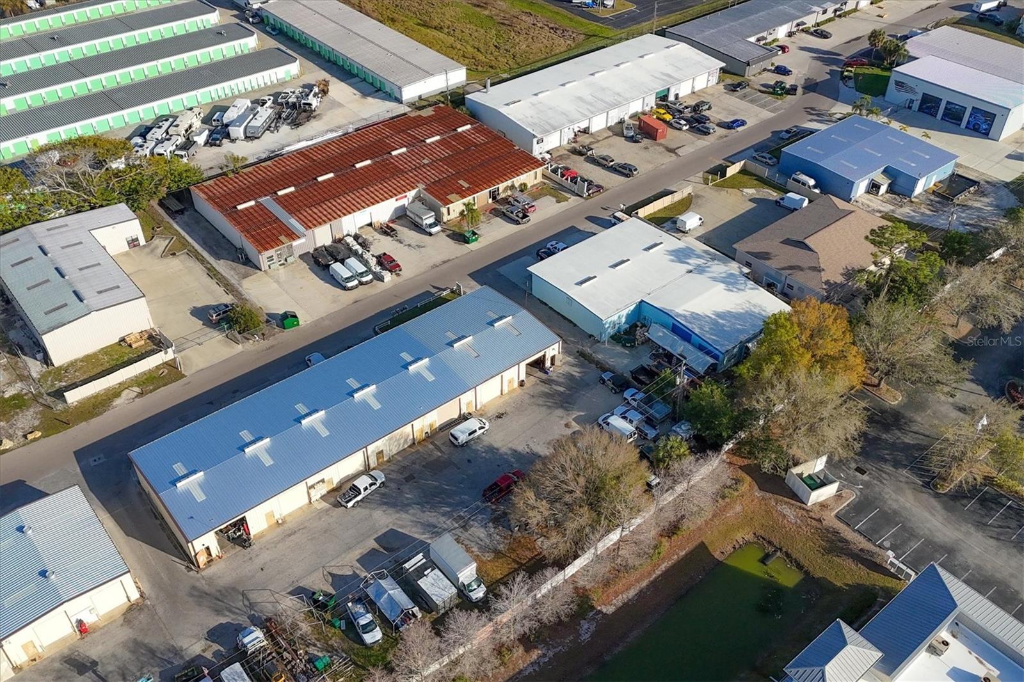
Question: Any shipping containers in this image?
Yes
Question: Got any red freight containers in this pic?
Yes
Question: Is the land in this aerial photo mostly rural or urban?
urban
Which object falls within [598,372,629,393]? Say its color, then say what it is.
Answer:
black car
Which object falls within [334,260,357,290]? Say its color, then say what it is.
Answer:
white vehicle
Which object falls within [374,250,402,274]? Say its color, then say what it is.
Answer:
red truck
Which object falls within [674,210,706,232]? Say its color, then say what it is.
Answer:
white vehicle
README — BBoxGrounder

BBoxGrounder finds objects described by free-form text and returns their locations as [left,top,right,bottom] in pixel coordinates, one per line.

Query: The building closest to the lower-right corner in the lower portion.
[777,561,1024,682]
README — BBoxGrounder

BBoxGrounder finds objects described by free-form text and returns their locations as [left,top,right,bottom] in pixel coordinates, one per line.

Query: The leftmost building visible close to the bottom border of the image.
[0,483,136,669]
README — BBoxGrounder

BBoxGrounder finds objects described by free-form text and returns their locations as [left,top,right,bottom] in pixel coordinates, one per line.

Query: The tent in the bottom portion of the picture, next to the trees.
[353,568,418,640]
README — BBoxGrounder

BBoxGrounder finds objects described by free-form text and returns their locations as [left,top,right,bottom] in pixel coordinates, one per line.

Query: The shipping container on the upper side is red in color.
[638,114,668,141]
